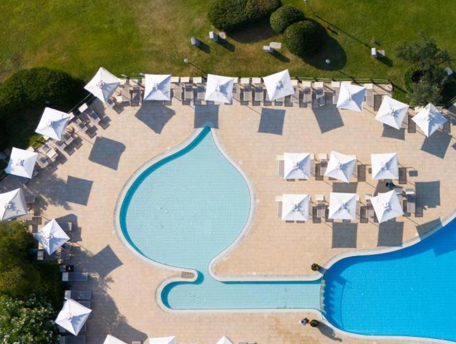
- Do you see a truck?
No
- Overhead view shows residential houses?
No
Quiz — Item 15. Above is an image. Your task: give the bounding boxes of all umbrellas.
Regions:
[57,298,95,334]
[38,108,75,142]
[85,67,123,104]
[150,336,178,344]
[0,188,32,221]
[371,152,399,180]
[215,334,236,344]
[324,150,358,184]
[411,105,448,139]
[370,189,404,223]
[104,335,128,344]
[330,193,357,220]
[375,95,410,130]
[262,69,295,103]
[34,218,73,256]
[7,147,43,180]
[282,194,309,221]
[206,75,235,104]
[144,75,173,102]
[335,81,368,114]
[284,153,311,180]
